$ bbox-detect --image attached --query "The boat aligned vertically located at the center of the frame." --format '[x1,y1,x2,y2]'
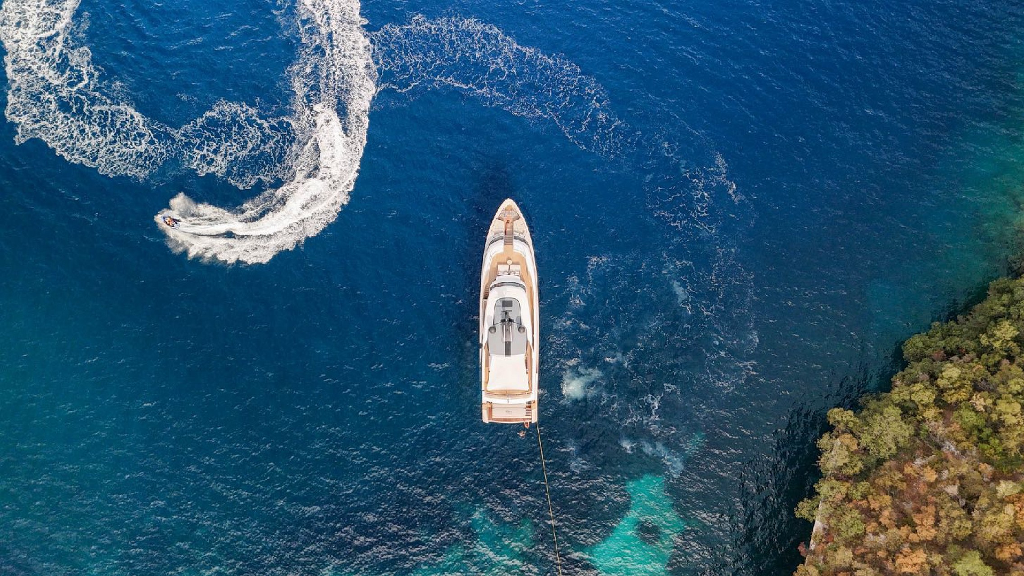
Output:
[480,198,539,429]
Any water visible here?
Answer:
Yes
